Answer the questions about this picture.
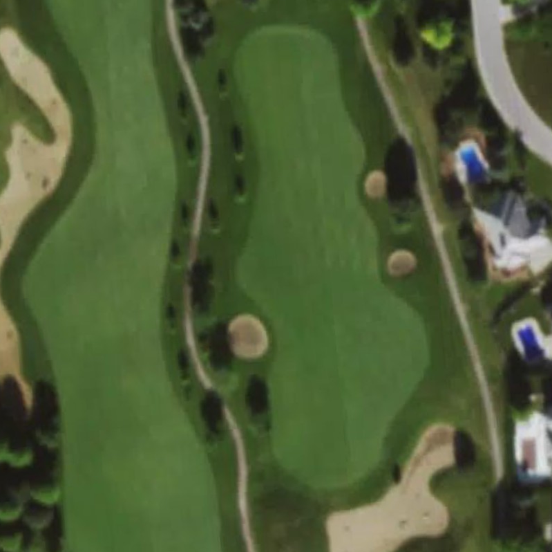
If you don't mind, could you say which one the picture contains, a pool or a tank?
pool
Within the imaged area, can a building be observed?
Yes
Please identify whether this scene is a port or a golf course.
golf course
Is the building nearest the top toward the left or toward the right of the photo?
right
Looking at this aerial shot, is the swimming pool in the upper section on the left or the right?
right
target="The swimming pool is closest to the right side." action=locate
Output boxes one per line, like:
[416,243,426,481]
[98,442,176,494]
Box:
[509,315,547,364]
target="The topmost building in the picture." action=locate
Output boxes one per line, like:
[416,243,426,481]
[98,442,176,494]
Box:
[493,196,552,277]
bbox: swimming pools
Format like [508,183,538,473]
[454,138,490,187]
[509,315,547,364]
